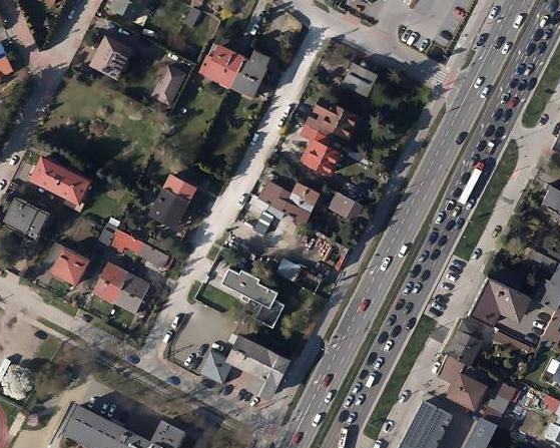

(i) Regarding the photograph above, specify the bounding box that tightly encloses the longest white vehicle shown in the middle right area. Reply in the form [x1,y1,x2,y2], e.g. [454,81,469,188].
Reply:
[458,160,484,205]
